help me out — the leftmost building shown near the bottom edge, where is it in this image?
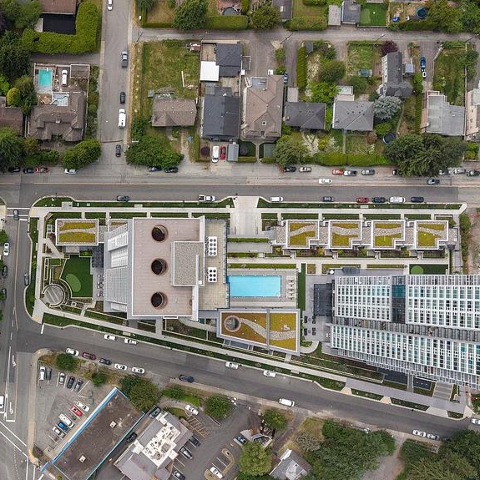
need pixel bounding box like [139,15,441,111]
[41,387,144,480]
